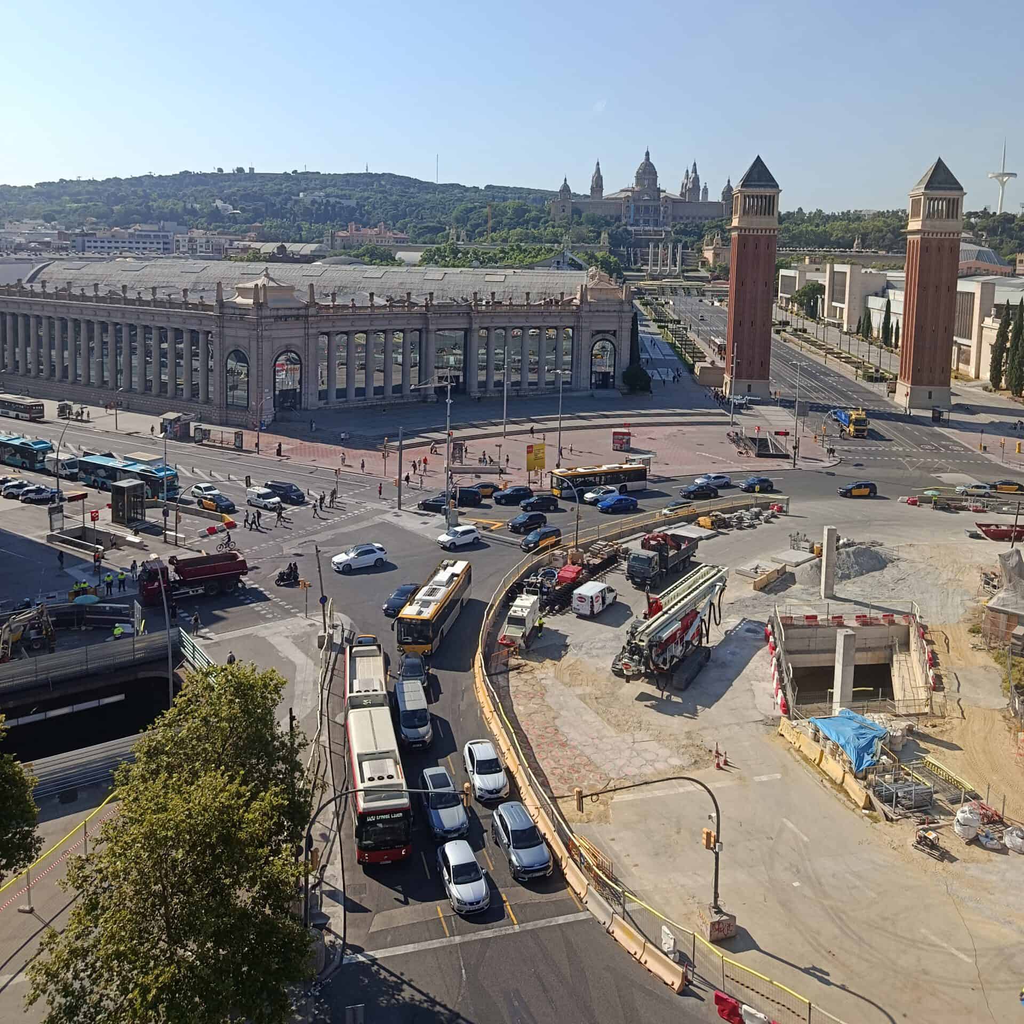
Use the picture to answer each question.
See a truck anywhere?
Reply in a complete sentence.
Yes, looking at the shot, I can spot a truck.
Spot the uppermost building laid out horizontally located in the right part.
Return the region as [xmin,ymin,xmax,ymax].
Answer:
[549,145,749,232]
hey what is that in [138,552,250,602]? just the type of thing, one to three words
truck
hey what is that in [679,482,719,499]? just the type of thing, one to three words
car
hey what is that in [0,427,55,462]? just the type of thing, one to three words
bus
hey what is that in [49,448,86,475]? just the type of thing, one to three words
vehicle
